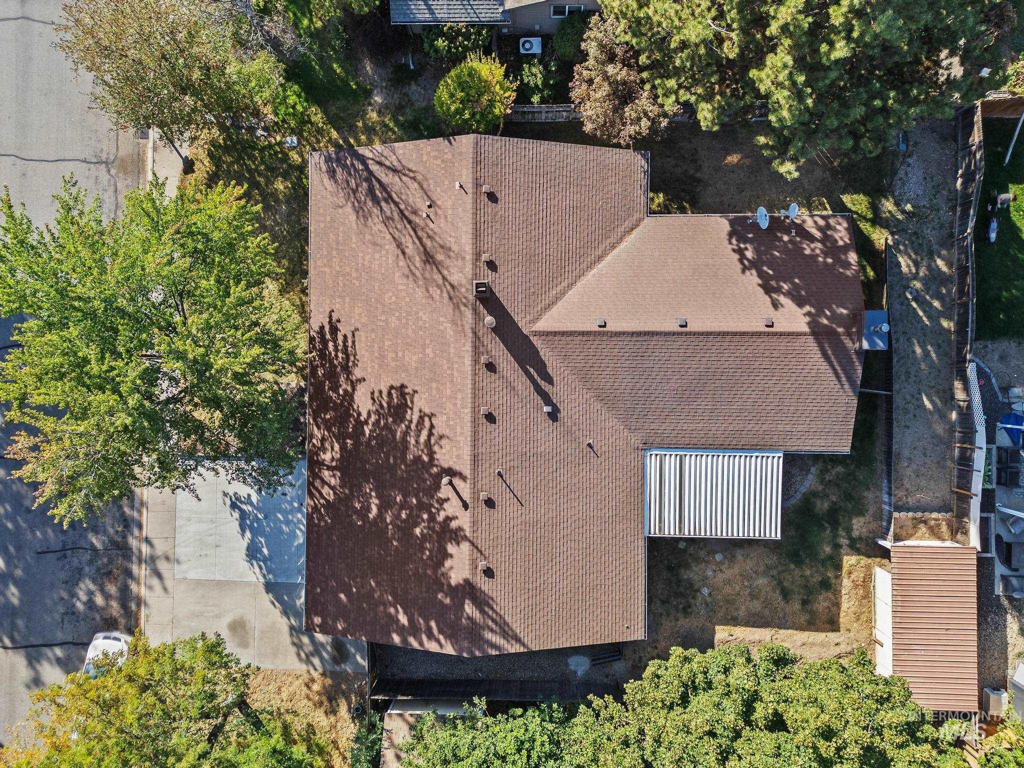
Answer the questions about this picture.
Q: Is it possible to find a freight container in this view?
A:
No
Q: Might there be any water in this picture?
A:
No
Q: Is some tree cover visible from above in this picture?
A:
Yes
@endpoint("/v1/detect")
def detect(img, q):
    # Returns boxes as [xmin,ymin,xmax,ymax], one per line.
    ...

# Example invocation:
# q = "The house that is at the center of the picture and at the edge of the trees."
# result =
[302,134,892,655]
